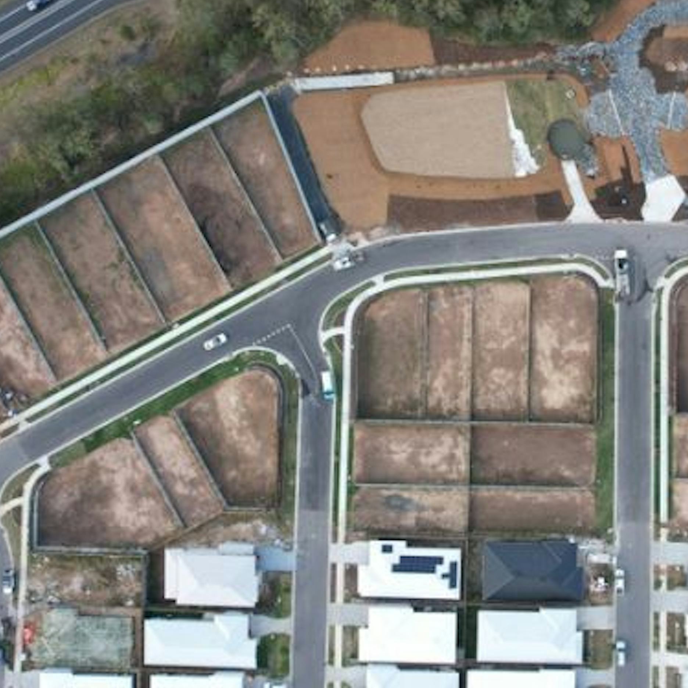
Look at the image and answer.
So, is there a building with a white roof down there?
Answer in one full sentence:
Yes, there's a building with a white roof down there.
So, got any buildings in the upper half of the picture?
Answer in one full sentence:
No, no building appears in the upper half of the picture.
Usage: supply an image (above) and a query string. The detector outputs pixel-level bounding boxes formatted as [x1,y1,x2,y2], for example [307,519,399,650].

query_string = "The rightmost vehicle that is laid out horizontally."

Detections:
[331,254,356,269]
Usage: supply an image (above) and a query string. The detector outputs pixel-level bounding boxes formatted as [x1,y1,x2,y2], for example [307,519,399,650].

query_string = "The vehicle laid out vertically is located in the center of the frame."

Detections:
[319,369,335,403]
